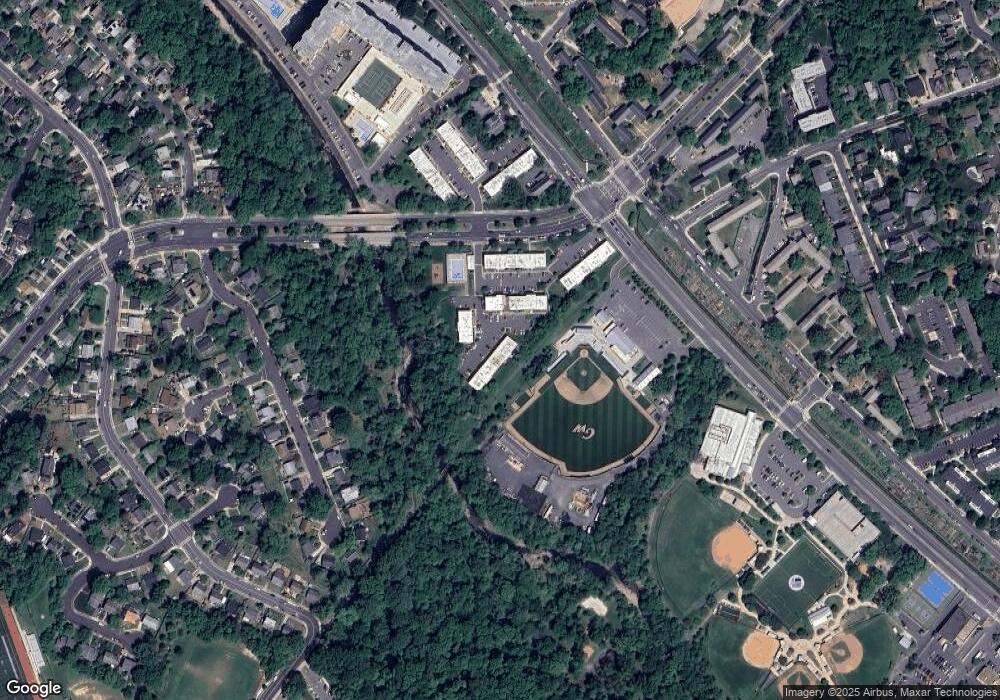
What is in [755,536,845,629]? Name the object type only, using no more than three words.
sports field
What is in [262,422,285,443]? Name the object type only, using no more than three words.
house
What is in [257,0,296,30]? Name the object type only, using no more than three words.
swimming pool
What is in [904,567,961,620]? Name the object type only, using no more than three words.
sports court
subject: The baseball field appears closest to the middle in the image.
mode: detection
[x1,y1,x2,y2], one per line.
[504,309,664,476]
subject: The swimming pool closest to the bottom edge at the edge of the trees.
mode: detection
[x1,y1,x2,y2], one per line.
[446,253,466,283]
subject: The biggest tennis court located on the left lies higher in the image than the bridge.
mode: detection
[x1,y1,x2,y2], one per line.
[353,57,401,108]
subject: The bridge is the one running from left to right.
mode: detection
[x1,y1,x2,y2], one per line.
[312,213,397,246]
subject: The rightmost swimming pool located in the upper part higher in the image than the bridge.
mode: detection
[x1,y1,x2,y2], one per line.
[345,112,377,150]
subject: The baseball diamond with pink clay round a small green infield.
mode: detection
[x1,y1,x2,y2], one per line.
[820,612,898,700]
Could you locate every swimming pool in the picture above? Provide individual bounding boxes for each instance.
[345,112,377,150]
[446,253,466,283]
[257,0,296,30]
